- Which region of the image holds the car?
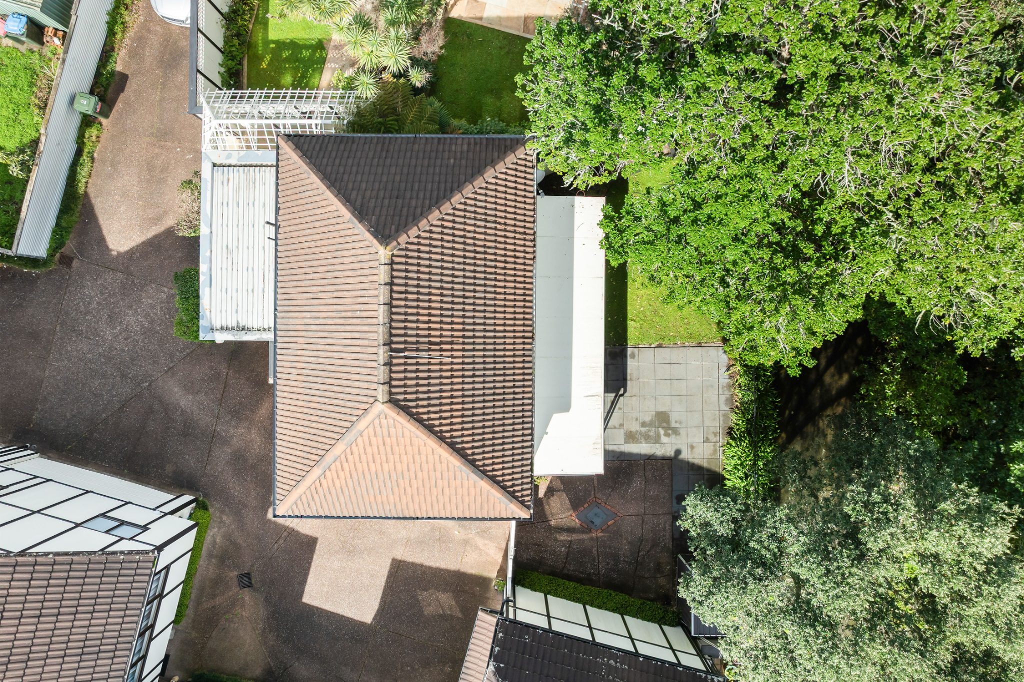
top left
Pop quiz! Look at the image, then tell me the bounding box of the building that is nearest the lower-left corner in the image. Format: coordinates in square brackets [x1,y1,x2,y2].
[0,440,200,682]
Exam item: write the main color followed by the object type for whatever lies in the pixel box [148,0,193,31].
white car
